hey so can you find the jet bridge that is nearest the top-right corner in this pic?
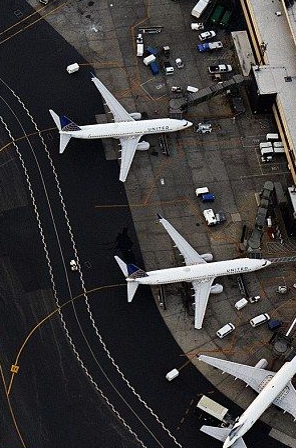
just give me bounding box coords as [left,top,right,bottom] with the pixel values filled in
[170,72,253,118]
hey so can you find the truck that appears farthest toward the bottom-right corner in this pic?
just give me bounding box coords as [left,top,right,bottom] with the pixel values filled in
[197,392,233,425]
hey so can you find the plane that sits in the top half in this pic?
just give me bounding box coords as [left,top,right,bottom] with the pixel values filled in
[50,72,195,183]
